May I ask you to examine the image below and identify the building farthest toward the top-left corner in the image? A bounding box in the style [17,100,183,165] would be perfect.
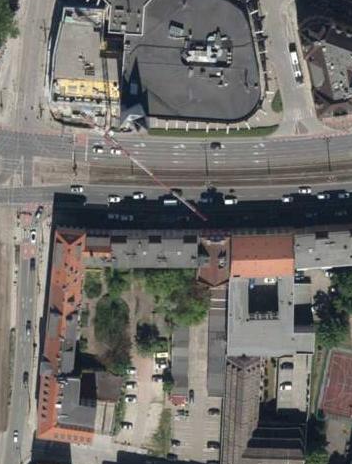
[51,1,122,102]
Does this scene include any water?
No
